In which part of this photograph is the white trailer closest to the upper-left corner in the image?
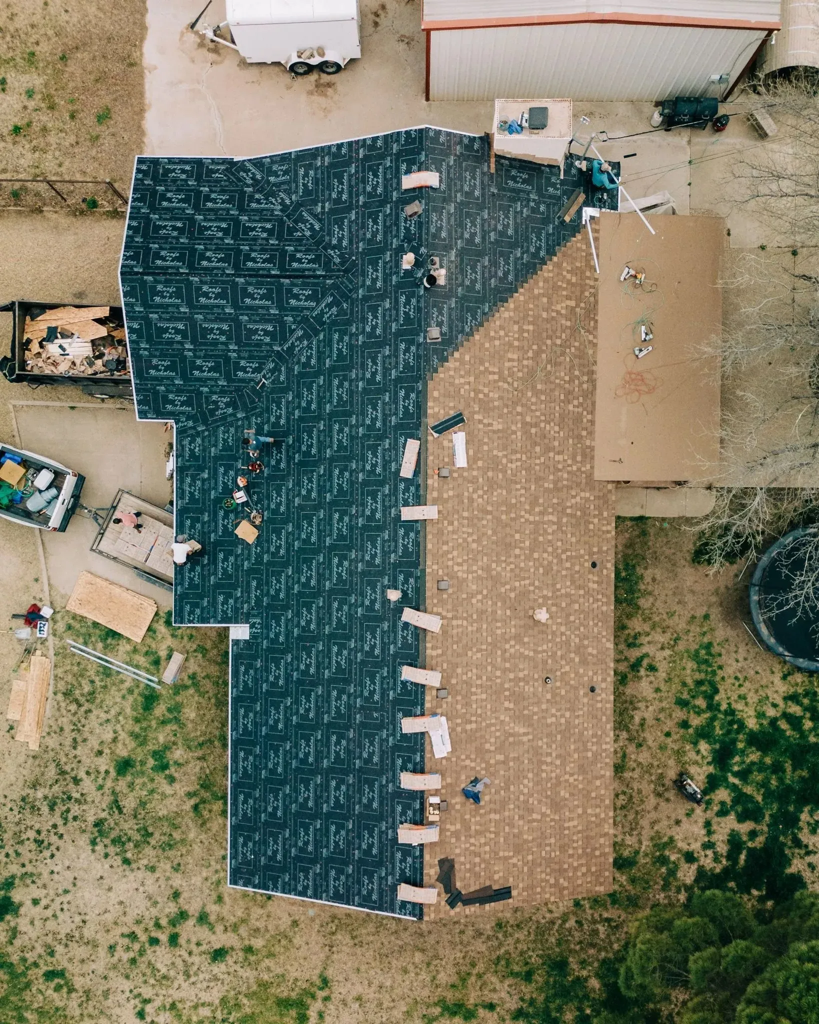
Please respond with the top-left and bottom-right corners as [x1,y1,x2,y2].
[207,0,363,74]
